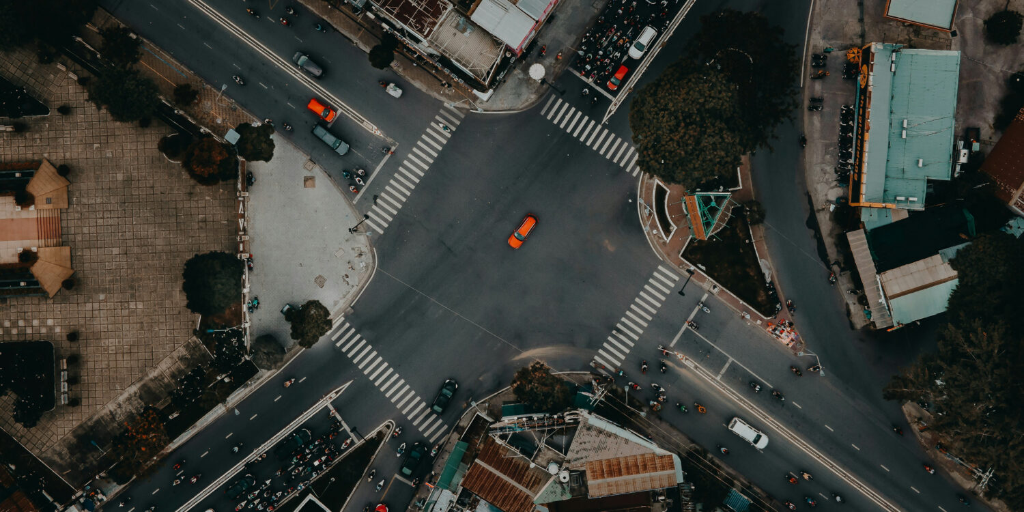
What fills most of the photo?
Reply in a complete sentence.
For the most part, this view shows paved ground.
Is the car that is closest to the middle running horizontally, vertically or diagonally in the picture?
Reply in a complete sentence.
From this overhead view, the car that is closest to the middle appears to run diagonally.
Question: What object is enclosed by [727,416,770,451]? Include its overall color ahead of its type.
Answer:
white car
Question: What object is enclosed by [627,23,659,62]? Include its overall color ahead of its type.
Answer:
white car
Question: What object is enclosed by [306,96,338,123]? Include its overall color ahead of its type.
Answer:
red car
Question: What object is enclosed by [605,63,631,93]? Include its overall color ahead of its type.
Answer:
red car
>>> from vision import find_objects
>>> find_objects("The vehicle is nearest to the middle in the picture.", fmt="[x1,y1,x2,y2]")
[507,212,539,250]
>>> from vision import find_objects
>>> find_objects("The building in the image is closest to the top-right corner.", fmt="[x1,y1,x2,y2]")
[881,0,959,34]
